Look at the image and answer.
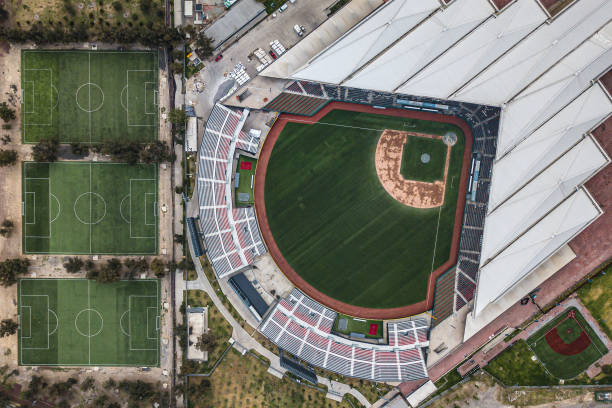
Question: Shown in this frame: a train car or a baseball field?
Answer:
baseball field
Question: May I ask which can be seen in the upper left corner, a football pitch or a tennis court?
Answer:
football pitch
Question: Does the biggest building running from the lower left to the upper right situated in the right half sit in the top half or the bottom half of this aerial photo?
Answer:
bottom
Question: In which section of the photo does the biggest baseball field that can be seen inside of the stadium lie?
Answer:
center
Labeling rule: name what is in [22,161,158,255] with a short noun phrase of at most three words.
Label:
soccer field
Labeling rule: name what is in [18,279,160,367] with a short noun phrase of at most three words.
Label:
soccer field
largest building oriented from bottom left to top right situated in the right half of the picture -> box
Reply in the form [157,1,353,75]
[405,378,437,407]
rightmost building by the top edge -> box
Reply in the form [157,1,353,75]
[204,0,265,51]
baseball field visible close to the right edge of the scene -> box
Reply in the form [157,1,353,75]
[527,305,611,380]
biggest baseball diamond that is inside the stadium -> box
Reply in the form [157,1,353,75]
[254,101,472,320]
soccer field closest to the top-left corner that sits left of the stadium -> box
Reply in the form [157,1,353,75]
[22,50,158,143]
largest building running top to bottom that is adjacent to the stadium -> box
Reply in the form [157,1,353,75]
[185,116,198,152]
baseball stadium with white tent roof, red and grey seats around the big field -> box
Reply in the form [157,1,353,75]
[198,0,612,382]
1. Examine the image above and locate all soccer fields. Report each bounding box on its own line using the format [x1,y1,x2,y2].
[22,50,158,143]
[22,161,158,255]
[18,279,160,367]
